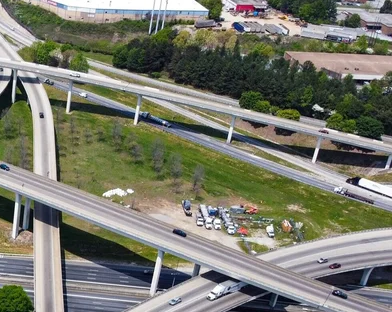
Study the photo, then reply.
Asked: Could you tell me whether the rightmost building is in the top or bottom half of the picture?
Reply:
top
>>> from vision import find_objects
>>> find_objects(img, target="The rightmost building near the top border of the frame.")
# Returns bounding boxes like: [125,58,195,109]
[351,10,392,34]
